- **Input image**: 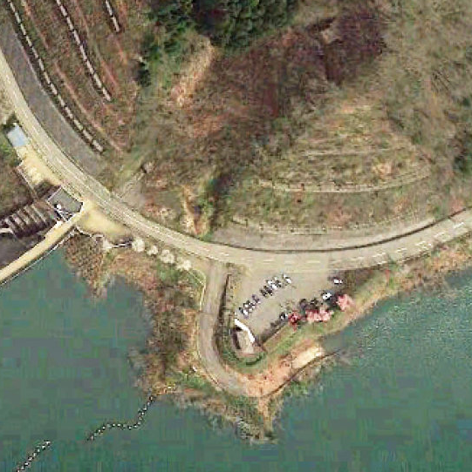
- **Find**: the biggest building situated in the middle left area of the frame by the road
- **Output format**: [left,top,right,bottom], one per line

[48,186,83,218]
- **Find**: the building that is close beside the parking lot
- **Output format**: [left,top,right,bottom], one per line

[234,317,256,354]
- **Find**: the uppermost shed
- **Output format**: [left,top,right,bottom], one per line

[7,123,30,149]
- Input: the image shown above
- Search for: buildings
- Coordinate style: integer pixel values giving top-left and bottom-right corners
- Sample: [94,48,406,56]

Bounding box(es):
[7,123,30,149]
[234,317,256,354]
[48,186,83,218]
